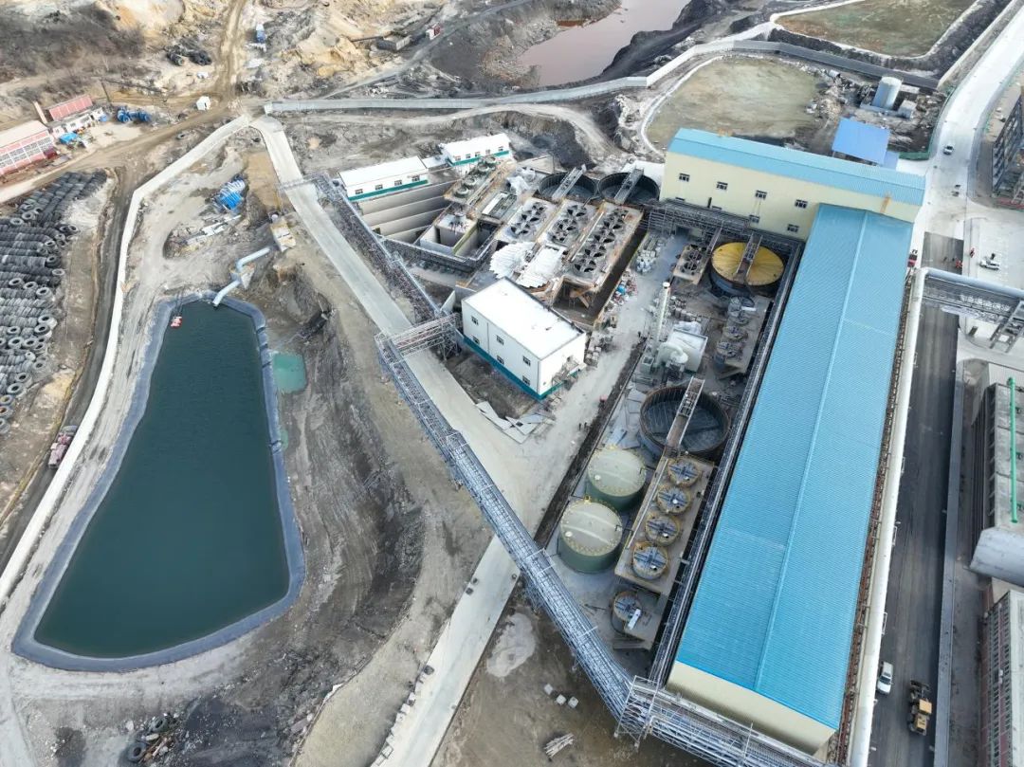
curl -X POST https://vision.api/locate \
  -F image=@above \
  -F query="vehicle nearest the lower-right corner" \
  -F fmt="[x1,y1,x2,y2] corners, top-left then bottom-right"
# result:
[904,675,933,735]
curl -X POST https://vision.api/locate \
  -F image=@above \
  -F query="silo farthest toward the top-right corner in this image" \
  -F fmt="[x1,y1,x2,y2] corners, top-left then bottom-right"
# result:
[874,77,905,109]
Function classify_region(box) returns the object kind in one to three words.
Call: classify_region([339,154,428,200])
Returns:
shed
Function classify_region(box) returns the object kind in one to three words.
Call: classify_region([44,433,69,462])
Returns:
work vehicle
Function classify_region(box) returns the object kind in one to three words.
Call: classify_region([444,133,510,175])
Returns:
shed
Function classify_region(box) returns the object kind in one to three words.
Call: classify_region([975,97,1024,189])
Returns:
building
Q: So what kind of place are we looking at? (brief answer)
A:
industrial area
